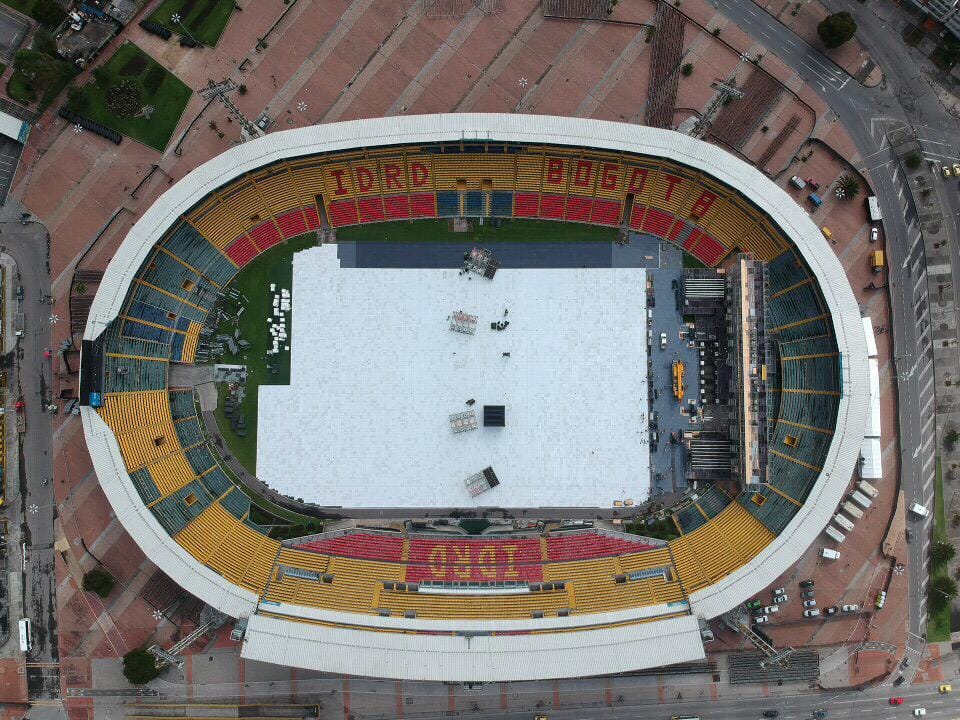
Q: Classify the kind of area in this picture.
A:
sports ground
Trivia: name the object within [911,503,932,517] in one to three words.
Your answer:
vehicle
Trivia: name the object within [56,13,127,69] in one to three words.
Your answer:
house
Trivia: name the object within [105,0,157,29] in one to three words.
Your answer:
building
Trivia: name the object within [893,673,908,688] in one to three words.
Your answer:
car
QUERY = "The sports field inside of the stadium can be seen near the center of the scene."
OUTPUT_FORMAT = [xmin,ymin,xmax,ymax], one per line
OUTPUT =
[190,218,712,543]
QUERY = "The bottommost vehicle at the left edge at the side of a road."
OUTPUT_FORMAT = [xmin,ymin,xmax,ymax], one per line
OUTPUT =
[13,619,29,655]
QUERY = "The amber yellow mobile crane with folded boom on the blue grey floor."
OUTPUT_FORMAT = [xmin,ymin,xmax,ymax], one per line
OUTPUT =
[668,362,688,408]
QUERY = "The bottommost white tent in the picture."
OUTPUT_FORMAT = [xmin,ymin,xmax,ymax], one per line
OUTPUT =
[855,437,883,478]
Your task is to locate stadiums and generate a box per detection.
[79,112,871,682]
